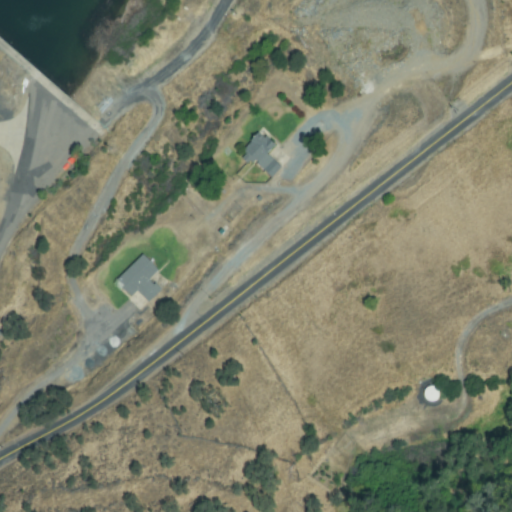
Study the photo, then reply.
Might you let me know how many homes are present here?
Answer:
2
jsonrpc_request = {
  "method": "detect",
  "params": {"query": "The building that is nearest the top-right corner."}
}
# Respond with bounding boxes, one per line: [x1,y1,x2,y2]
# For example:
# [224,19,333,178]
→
[238,132,282,176]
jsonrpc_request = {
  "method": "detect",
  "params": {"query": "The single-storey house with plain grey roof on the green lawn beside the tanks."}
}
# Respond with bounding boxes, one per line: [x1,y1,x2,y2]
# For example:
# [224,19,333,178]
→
[118,254,160,301]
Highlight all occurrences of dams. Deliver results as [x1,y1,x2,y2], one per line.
[0,38,104,134]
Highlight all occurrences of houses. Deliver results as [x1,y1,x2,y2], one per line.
[238,132,282,176]
[118,254,160,301]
